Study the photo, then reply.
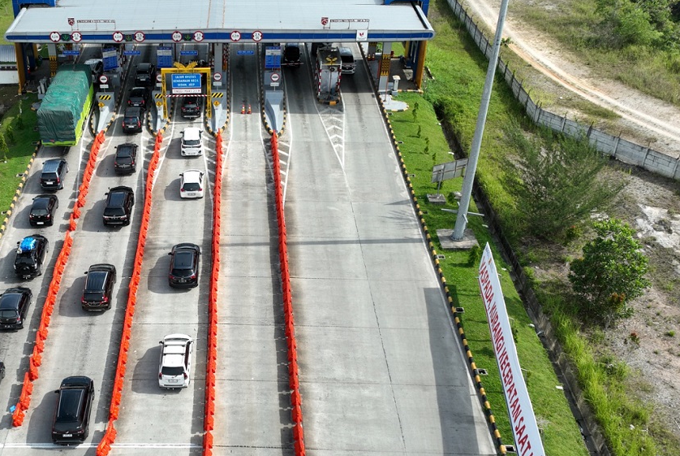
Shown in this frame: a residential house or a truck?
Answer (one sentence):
Of the two, only a truck appears.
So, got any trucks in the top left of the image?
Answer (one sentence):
Yes, a truck appears in the top left of the image.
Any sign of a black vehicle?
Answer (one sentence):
Yes, I can see a black vehicle in this picture.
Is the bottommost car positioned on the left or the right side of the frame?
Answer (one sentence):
You can find the bottommost car on the left side of the picture.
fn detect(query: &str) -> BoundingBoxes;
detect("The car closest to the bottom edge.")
[51,377,95,444]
